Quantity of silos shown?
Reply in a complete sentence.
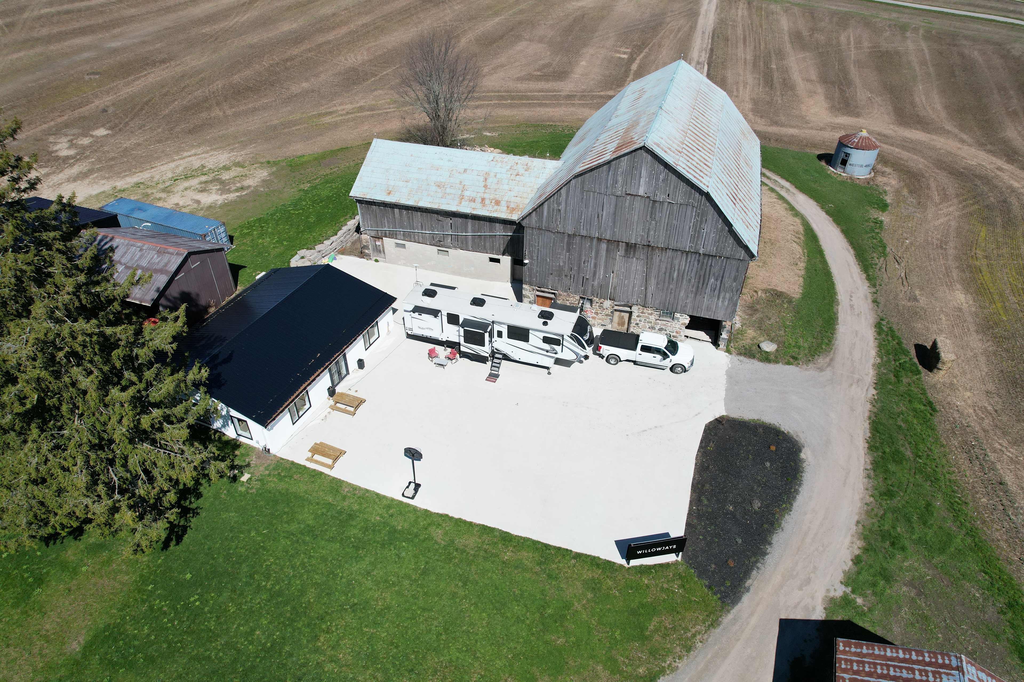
In total, 1 silo can be seen.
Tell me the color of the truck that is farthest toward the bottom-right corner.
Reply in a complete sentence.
From above, the truck that is farthest toward the bottom-right corner appears white.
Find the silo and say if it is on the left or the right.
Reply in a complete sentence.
You can find the silo on the right side of the picture.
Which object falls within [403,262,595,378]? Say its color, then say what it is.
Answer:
white trailer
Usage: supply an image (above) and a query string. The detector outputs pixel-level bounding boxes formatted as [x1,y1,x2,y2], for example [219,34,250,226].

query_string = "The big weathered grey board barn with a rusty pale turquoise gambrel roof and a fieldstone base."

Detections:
[515,49,762,352]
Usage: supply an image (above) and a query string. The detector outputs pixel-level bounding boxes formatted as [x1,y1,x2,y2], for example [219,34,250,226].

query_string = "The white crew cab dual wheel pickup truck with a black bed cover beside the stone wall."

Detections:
[594,330,694,373]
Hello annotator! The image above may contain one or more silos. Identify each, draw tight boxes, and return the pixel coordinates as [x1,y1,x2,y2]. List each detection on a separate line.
[829,130,881,178]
